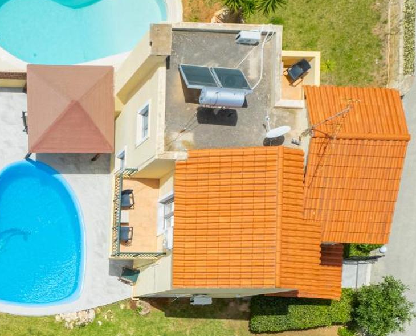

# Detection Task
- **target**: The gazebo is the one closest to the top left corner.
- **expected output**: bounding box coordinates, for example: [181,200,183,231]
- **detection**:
[23,63,115,161]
